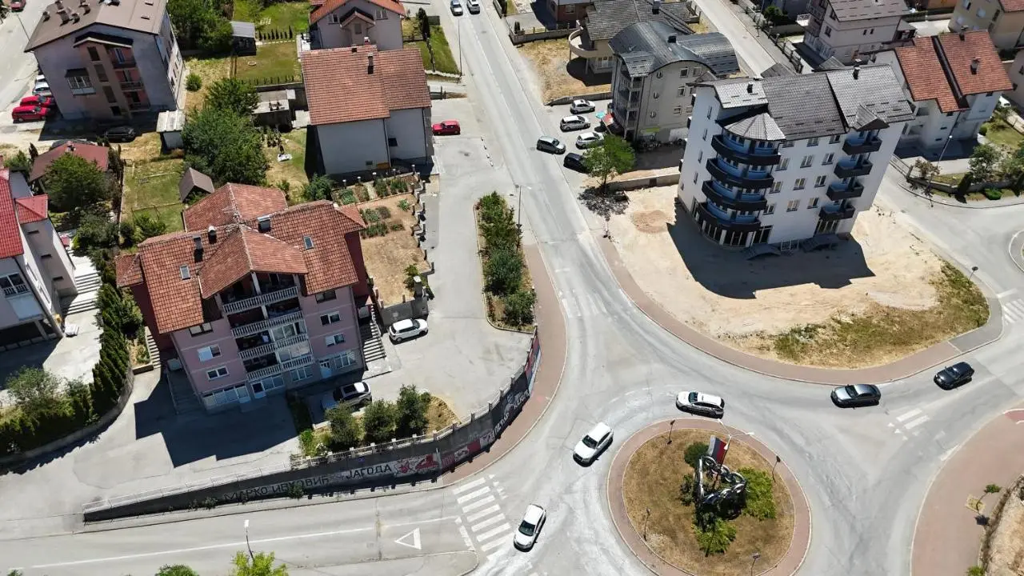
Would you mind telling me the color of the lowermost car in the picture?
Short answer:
white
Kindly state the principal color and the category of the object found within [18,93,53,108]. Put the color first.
red car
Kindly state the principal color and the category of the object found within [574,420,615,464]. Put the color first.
white car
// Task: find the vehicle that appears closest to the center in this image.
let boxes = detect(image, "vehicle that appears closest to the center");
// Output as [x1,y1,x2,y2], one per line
[385,316,431,343]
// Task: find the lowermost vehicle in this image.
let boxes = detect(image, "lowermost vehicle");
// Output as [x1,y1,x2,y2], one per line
[512,500,549,552]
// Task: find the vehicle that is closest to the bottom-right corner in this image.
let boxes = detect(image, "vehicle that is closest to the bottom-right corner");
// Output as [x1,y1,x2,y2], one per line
[931,360,981,391]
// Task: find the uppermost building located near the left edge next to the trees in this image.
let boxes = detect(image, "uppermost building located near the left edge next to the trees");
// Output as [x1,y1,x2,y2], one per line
[24,0,189,119]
